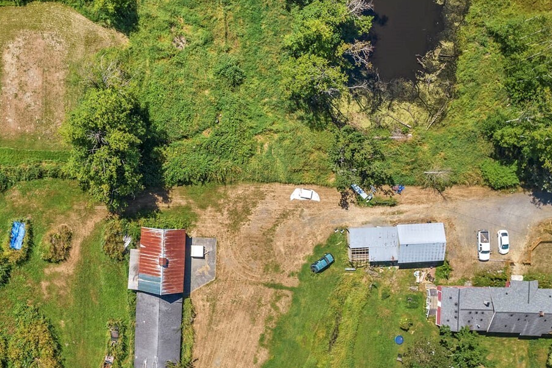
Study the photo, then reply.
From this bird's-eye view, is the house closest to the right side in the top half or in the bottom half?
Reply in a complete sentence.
It is in the bottom half that the house closest to the right side appears.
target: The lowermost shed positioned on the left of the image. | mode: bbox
[135,292,182,368]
